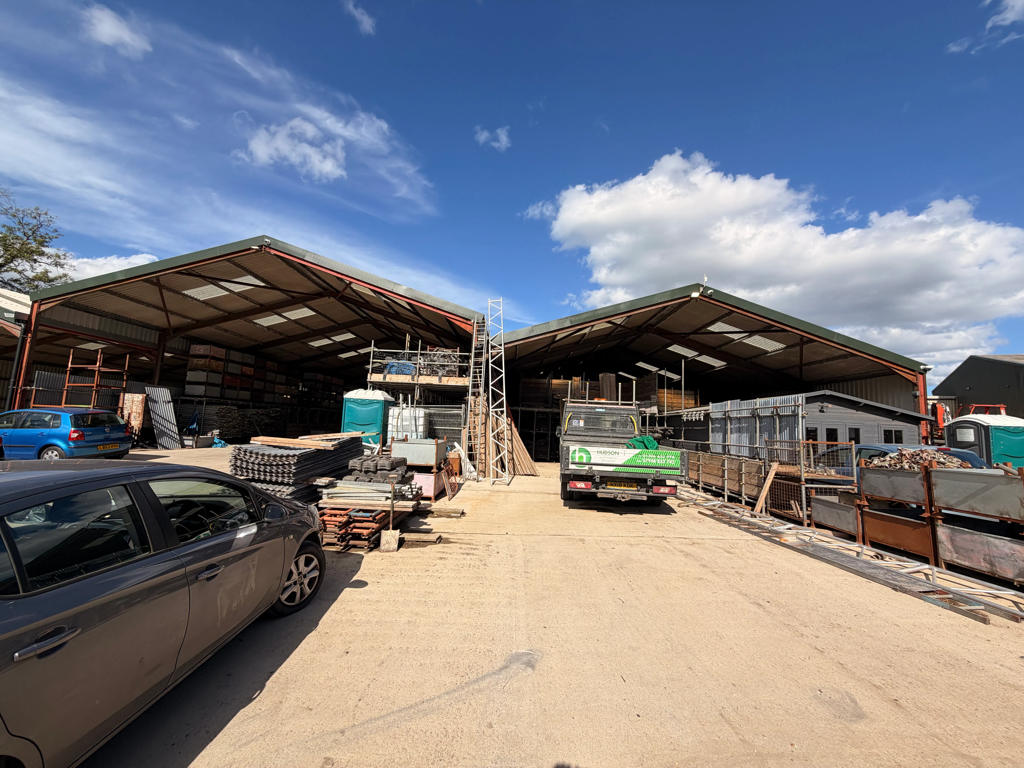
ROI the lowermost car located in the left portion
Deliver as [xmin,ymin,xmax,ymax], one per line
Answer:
[0,446,324,768]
